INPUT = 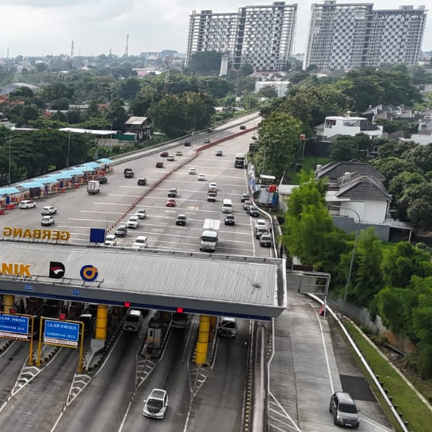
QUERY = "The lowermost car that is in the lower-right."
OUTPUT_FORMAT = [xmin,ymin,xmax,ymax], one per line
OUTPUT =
[331,392,361,424]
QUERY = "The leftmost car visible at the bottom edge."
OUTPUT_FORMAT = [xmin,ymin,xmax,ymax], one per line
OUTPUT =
[143,390,168,417]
